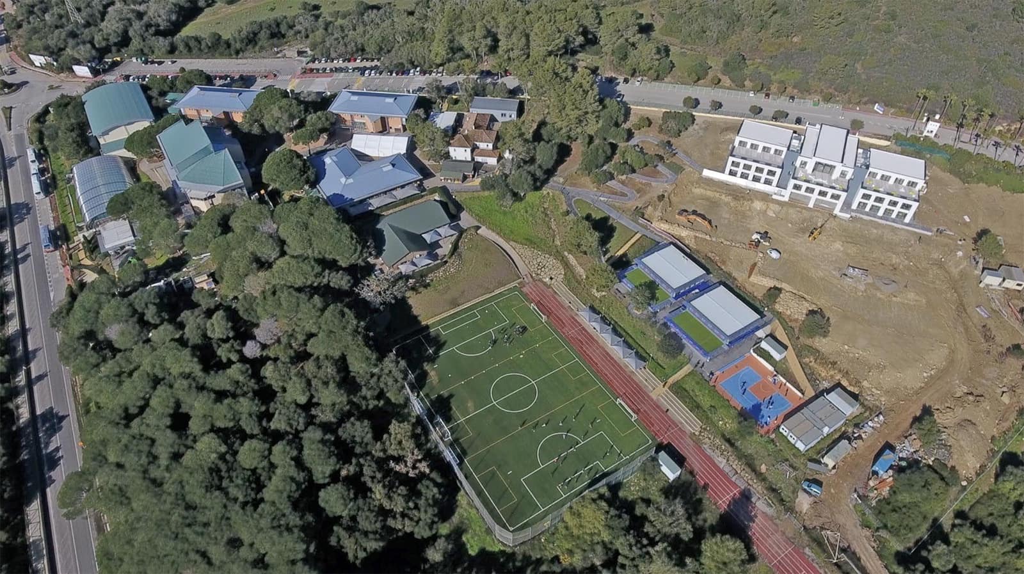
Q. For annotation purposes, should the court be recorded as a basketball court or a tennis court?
basketball court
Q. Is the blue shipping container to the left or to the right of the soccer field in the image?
right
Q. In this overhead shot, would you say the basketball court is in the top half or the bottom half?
bottom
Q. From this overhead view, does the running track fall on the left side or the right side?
right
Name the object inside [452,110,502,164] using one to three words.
house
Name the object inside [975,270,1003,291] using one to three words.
shed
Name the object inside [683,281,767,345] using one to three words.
building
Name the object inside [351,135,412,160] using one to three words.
tent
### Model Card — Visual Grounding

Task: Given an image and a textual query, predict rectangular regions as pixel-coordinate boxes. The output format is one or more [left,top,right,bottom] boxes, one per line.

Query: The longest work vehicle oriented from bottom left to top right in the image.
[806,210,836,241]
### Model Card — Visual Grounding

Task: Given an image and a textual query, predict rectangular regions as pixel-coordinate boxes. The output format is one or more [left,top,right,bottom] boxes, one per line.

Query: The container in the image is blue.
[866,450,896,482]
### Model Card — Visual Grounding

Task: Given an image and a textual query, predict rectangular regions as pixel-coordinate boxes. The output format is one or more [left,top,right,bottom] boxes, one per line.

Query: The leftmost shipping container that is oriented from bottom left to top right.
[821,440,852,467]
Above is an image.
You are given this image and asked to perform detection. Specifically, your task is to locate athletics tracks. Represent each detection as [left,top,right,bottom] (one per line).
[516,276,822,574]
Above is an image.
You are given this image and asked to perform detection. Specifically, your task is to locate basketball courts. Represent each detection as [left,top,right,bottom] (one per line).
[712,354,805,429]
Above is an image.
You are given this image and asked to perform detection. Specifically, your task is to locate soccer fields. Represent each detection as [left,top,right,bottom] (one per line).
[377,282,662,536]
